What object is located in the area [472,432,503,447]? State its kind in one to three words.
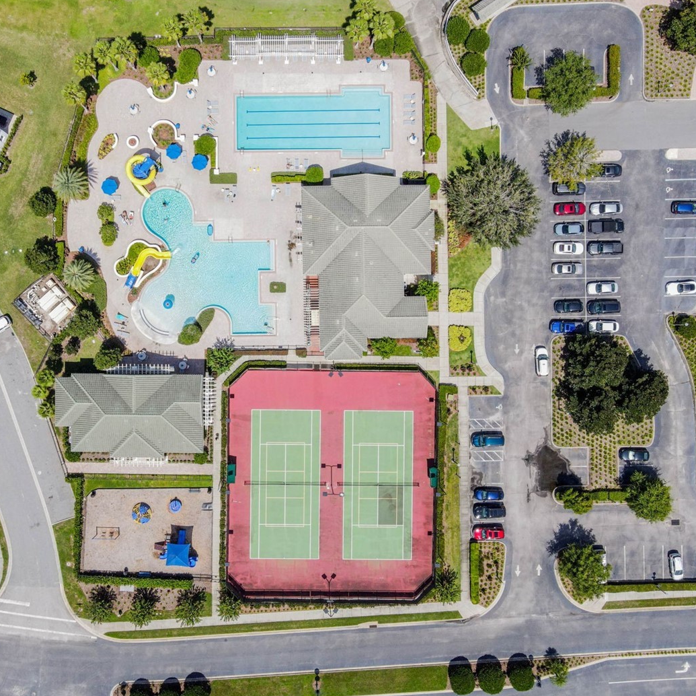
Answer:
car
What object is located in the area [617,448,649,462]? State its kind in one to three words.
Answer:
vehicle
